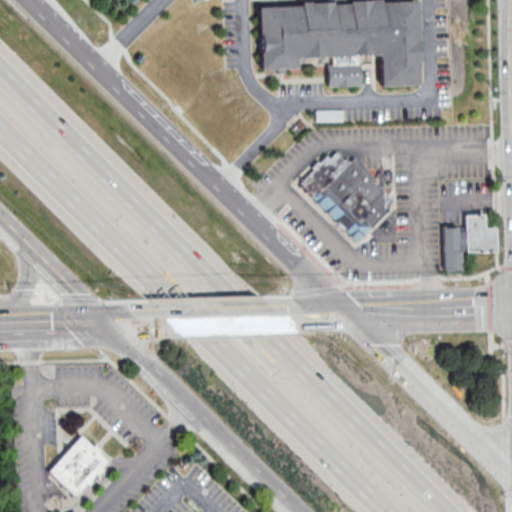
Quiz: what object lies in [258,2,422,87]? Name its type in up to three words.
house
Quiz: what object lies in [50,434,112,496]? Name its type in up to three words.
building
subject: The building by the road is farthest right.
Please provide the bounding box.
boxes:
[466,213,499,256]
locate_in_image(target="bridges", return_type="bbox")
[100,294,346,344]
